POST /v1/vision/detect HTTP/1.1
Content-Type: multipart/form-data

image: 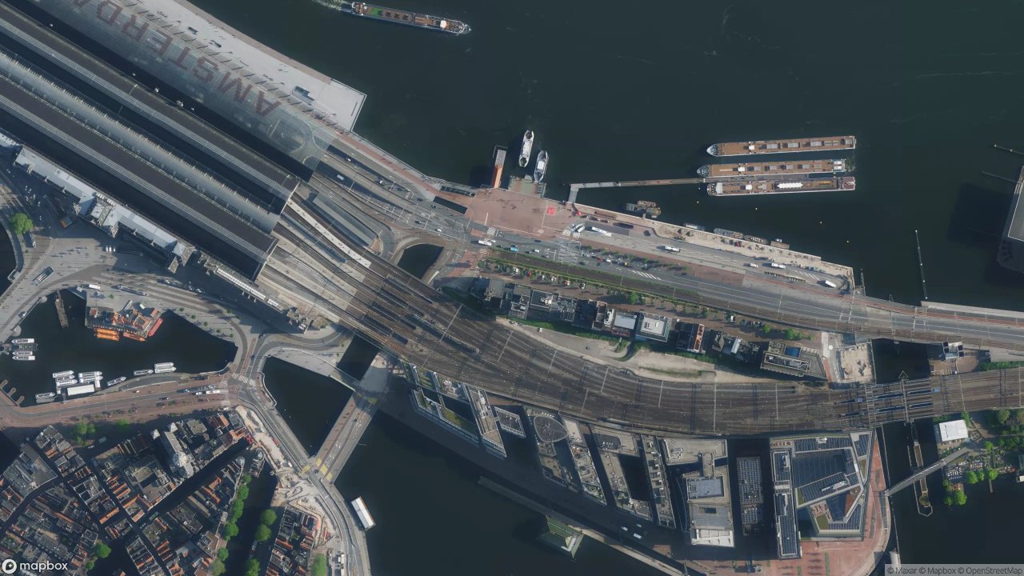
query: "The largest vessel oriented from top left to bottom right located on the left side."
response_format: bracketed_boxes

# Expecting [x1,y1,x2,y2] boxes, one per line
[351,498,375,527]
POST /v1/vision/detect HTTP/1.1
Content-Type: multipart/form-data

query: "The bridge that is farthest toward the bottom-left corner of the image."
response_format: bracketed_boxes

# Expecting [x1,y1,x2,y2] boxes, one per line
[309,379,390,483]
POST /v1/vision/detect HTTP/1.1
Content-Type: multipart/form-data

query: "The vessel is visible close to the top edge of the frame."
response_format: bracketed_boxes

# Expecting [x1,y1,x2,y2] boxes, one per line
[349,3,471,34]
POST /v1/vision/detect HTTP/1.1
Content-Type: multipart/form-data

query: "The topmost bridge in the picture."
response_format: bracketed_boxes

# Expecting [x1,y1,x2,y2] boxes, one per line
[851,294,930,346]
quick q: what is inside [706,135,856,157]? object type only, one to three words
ship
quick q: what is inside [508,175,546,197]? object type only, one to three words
pier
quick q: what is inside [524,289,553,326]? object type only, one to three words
building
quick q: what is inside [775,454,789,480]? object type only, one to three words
solar array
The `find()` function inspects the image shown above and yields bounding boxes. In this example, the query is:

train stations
[0,0,376,323]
